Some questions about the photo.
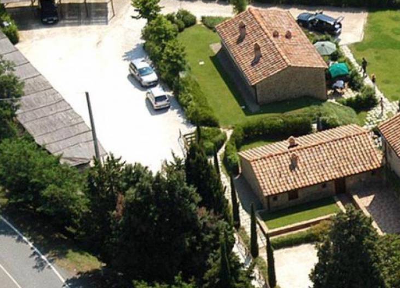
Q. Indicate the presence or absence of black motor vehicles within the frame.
Yes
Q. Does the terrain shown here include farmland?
No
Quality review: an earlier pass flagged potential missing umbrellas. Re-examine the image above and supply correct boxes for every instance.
[315,44,335,59]
[328,68,347,81]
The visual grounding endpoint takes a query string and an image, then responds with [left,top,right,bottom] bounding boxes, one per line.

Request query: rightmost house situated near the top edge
[213,7,330,103]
